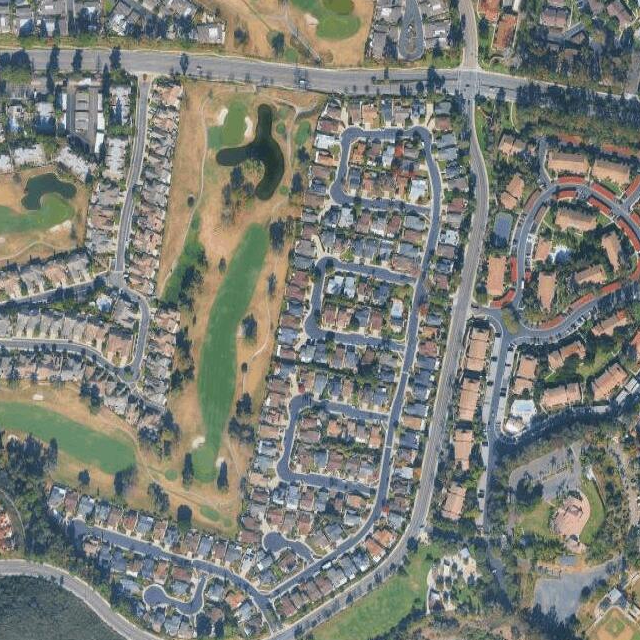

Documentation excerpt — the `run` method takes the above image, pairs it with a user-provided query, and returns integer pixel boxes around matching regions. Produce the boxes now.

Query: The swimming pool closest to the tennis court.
[552,244,572,265]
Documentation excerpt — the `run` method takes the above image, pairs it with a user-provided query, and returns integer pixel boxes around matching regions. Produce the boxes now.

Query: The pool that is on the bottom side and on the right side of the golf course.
[511,399,536,425]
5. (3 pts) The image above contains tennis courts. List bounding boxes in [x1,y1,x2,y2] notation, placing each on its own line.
[491,211,512,247]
